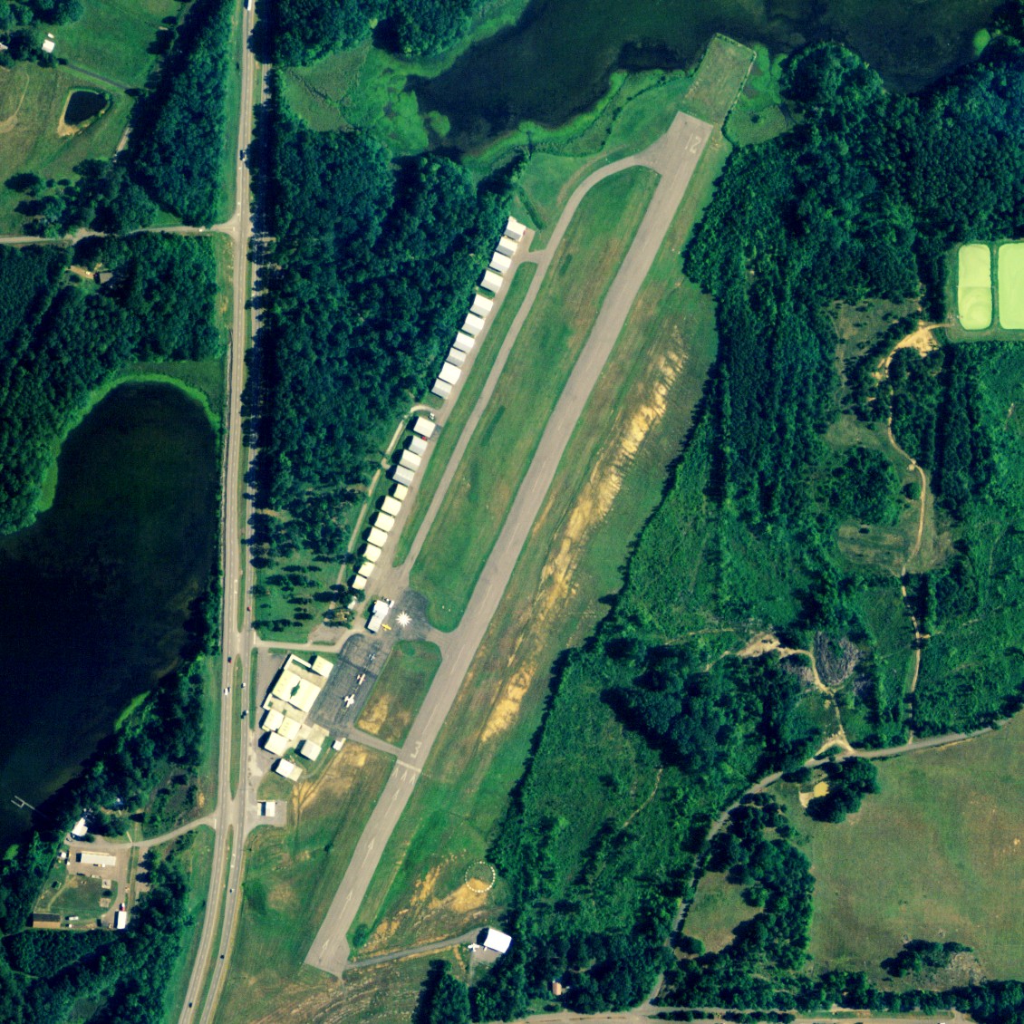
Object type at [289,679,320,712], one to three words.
building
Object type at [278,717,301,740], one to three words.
building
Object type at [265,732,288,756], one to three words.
hangar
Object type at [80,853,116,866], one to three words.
shed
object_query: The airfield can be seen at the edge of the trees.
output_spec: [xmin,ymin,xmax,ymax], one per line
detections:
[271,111,713,981]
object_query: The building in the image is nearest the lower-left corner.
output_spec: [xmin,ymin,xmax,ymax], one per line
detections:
[32,914,60,929]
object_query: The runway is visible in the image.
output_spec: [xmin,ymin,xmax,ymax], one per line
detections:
[304,111,713,981]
